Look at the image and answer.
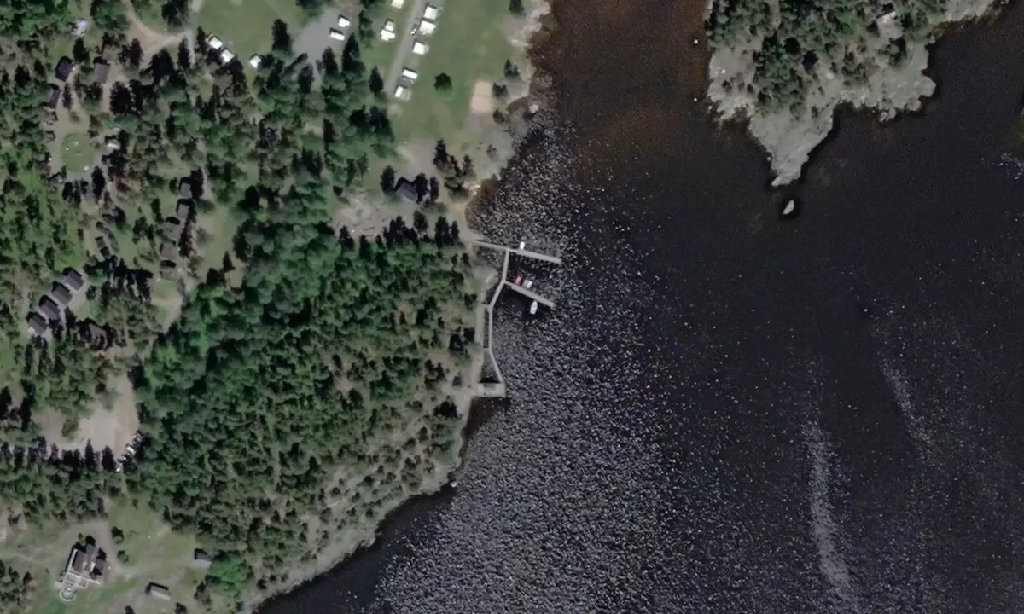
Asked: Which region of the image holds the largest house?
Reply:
bottom left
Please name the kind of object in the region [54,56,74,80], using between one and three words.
house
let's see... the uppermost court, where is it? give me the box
[471,80,492,114]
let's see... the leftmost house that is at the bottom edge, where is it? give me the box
[60,546,107,602]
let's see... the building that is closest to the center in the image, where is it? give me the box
[393,178,418,201]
